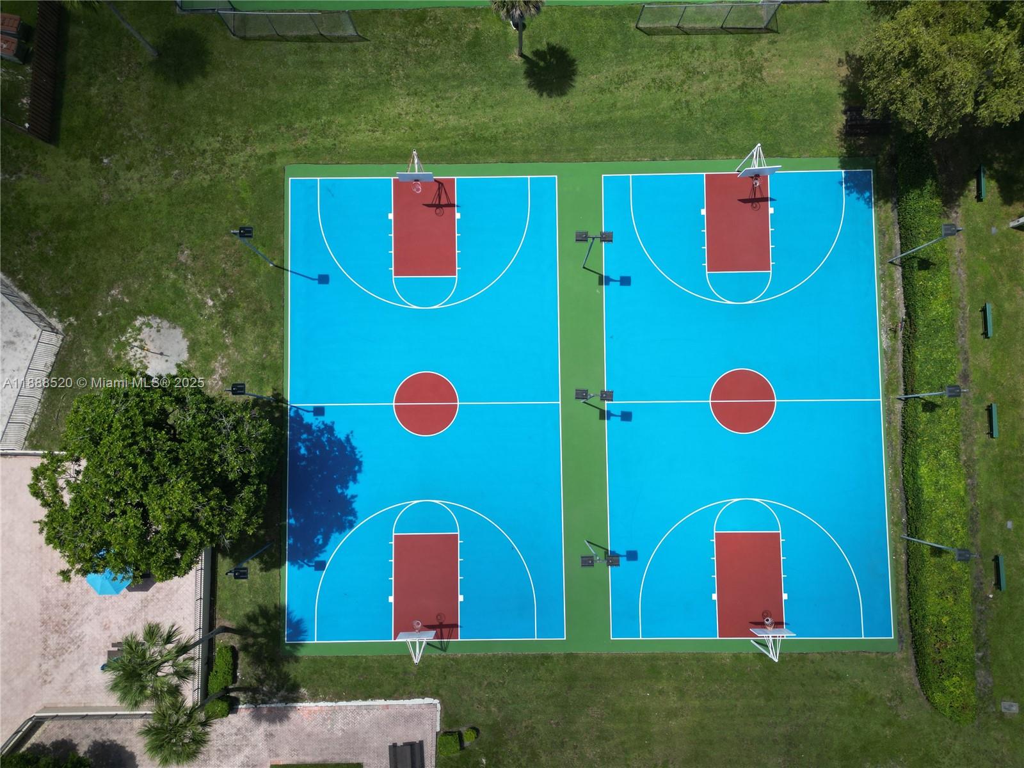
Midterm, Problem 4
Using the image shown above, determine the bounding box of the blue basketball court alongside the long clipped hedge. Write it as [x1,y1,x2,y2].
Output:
[603,170,893,639]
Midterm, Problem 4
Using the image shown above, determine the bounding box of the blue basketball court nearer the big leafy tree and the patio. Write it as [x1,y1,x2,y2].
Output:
[286,176,566,642]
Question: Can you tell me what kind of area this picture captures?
sports ground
